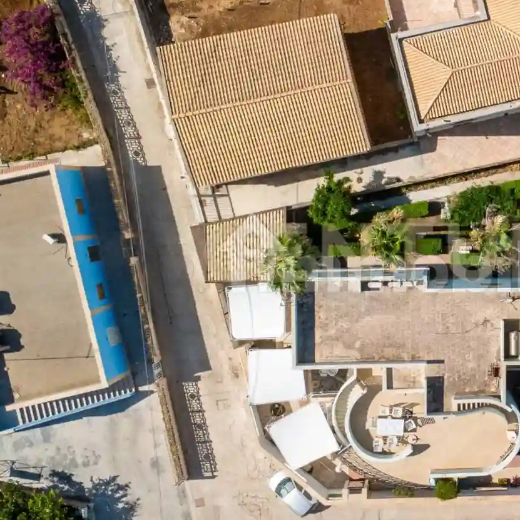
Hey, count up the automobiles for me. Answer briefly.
1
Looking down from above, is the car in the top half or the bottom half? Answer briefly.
bottom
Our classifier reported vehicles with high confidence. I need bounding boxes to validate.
[268,469,320,518]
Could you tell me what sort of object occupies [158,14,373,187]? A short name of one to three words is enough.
building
